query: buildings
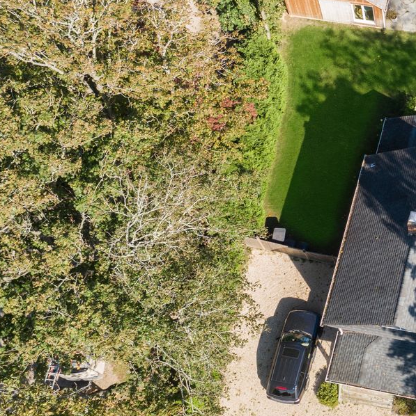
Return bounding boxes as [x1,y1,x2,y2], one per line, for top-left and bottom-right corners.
[321,115,416,400]
[286,0,390,28]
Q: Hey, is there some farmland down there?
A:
No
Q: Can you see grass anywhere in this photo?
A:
Yes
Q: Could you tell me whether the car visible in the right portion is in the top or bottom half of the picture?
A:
bottom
